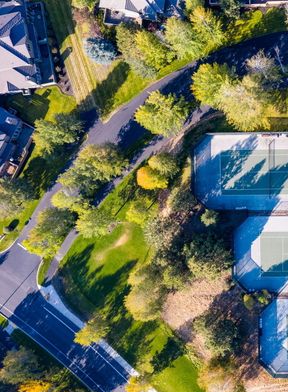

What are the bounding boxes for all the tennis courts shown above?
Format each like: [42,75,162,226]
[195,134,288,210]
[234,216,288,293]
[261,299,288,374]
